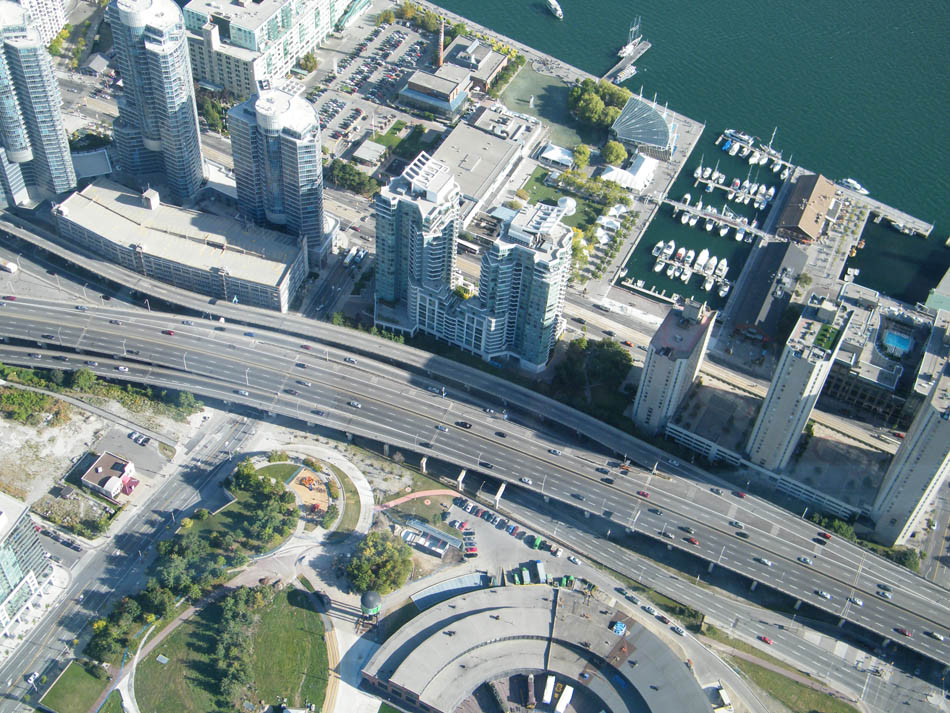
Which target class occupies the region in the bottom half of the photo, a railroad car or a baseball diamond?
railroad car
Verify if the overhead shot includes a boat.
Yes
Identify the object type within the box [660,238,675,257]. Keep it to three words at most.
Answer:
boat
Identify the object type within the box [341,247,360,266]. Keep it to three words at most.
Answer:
vehicle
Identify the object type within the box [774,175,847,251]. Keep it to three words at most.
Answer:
building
